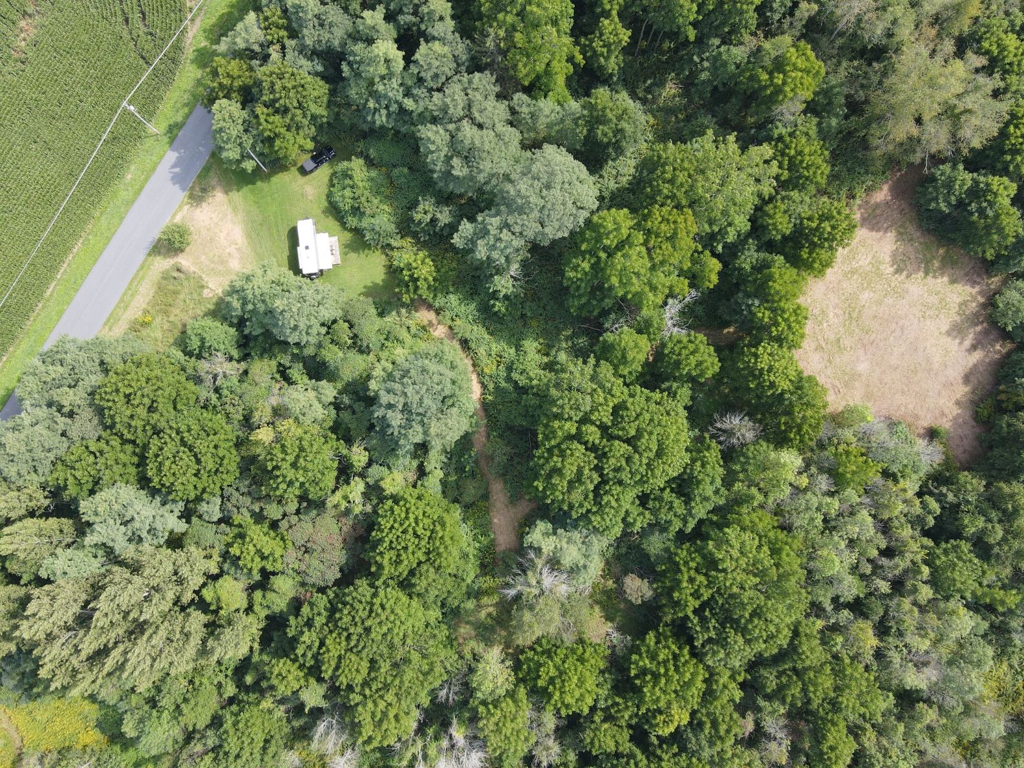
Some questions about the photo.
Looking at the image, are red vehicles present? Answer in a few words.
No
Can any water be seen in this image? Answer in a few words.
No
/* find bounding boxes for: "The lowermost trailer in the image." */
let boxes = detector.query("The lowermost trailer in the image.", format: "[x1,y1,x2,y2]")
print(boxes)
[297,221,322,286]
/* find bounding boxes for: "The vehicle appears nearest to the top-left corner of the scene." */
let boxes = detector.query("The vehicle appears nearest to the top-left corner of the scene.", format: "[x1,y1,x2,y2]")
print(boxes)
[302,146,337,175]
